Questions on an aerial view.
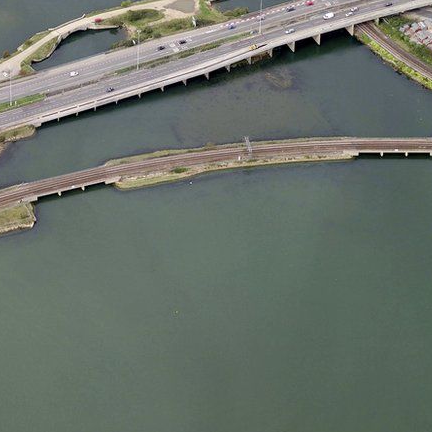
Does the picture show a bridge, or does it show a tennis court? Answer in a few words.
bridge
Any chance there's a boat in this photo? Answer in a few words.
No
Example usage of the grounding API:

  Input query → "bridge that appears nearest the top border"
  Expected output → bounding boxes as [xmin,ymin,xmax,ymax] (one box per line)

[23,0,432,117]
